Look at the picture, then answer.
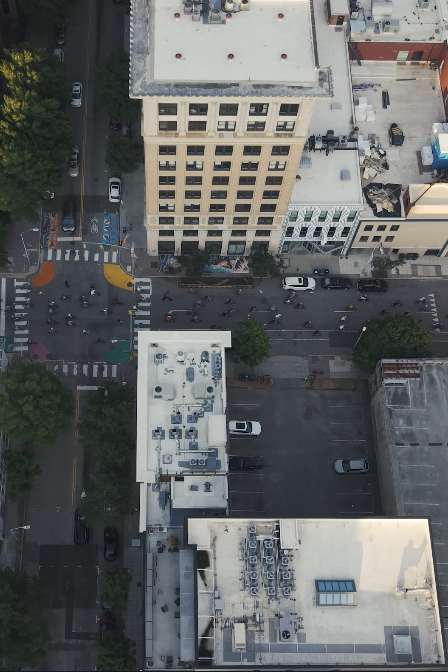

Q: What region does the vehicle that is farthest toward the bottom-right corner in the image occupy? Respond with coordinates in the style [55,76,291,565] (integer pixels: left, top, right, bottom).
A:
[331,457,370,476]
